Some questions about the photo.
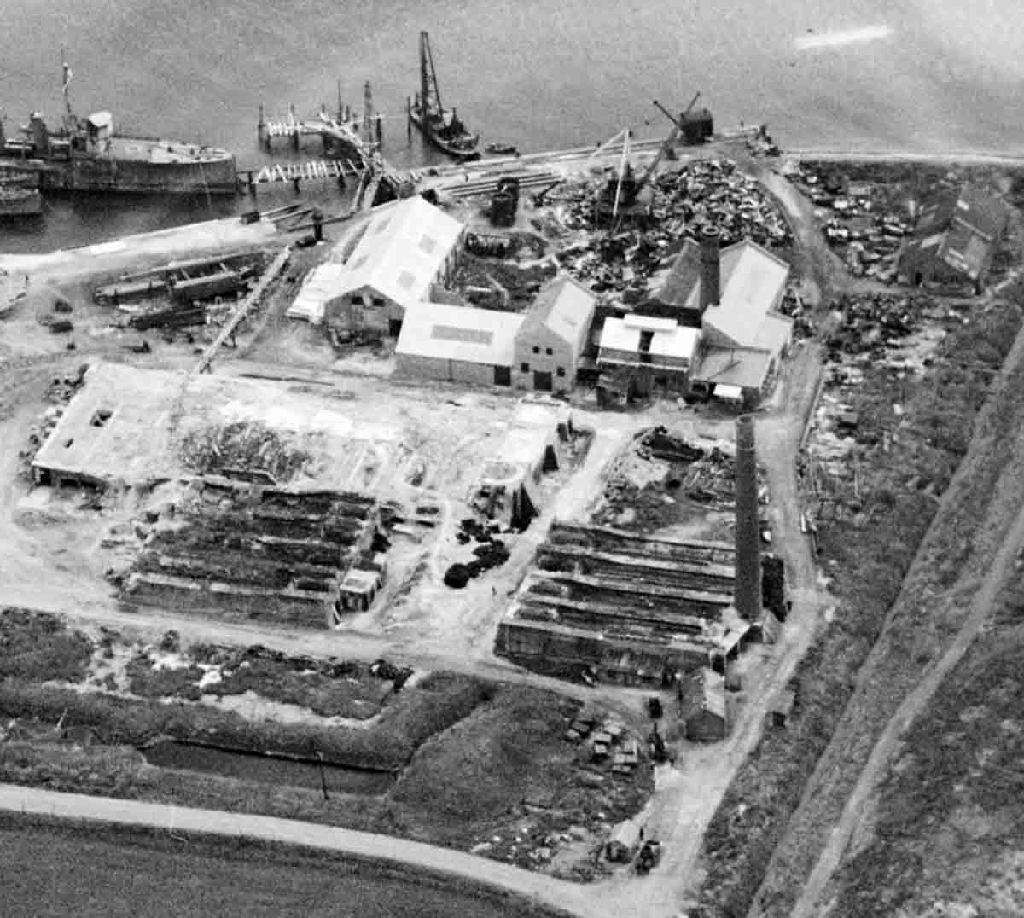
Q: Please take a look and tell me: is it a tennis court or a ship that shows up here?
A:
ship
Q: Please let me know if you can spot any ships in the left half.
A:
Yes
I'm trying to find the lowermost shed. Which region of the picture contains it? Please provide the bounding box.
[602,811,646,863]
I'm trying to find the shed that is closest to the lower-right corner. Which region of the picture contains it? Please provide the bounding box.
[766,684,802,730]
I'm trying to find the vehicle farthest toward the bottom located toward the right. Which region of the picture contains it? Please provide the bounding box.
[636,833,668,867]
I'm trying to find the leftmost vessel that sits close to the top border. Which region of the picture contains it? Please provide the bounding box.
[0,45,240,203]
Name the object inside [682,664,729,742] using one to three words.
shed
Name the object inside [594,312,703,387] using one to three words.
building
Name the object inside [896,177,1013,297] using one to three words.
building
